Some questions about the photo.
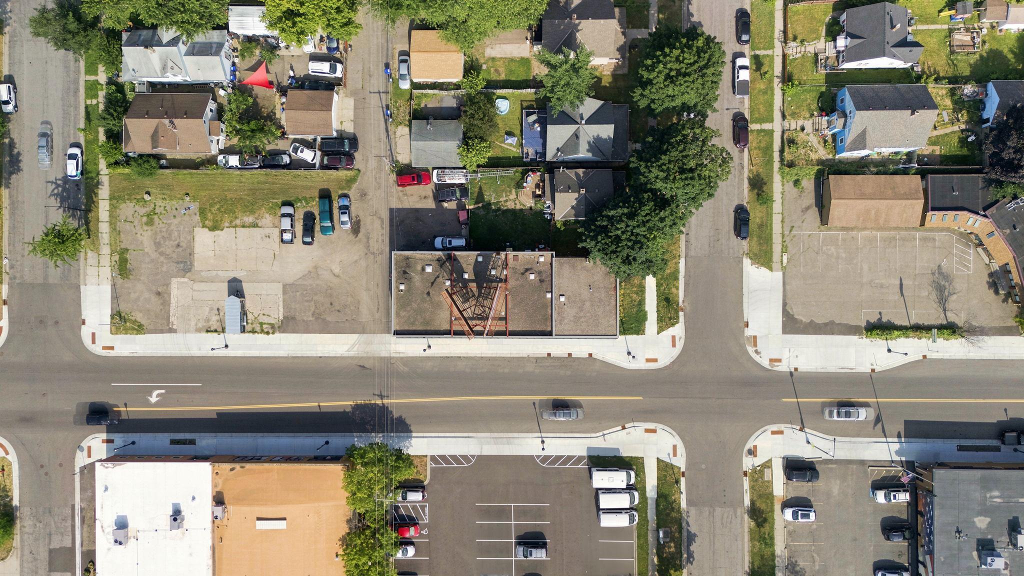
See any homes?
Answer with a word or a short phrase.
Yes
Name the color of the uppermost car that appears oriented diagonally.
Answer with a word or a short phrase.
white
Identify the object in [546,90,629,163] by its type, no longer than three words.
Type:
house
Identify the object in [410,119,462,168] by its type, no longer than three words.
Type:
building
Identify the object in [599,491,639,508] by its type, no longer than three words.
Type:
vehicle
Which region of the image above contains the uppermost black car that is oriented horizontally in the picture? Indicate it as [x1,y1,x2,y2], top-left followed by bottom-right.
[302,76,338,92]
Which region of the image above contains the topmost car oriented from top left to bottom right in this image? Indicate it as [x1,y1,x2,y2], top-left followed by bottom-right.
[289,141,316,164]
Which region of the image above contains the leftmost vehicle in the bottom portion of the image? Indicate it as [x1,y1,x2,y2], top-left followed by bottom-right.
[90,411,123,426]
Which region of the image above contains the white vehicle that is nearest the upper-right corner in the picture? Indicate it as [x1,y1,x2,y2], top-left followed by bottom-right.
[733,56,751,98]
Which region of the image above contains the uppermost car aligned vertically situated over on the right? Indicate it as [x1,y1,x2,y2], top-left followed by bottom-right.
[735,11,752,46]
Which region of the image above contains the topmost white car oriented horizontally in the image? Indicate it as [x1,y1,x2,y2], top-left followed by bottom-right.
[308,60,343,77]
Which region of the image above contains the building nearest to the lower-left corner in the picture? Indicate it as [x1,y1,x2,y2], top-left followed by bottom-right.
[95,455,225,576]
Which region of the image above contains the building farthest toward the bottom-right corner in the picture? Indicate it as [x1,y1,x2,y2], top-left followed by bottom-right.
[912,460,1024,576]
